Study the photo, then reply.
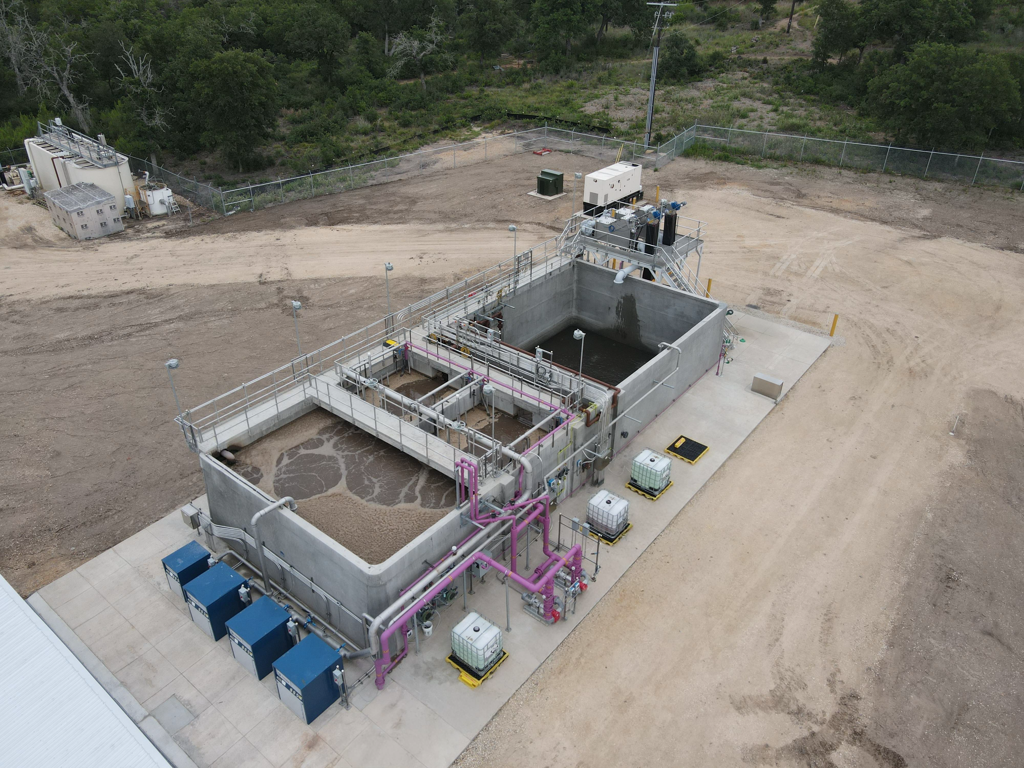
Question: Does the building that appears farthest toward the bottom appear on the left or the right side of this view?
left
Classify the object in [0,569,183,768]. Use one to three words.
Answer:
building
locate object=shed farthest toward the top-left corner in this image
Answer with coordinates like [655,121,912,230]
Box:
[39,182,122,240]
